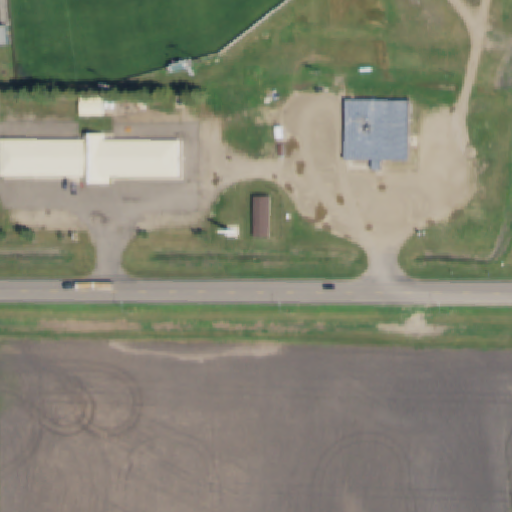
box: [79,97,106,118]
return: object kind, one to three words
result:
shed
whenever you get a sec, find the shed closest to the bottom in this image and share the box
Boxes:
[254,199,270,240]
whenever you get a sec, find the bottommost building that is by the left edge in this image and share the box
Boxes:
[0,133,183,186]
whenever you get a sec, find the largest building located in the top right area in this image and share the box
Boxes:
[344,98,410,169]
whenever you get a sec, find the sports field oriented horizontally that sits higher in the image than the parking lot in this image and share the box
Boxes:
[10,0,288,82]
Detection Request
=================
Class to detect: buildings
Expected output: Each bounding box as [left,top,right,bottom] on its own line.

[254,199,270,240]
[0,26,10,46]
[274,125,284,141]
[0,133,183,186]
[79,97,106,118]
[344,98,410,169]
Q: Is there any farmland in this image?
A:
Yes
